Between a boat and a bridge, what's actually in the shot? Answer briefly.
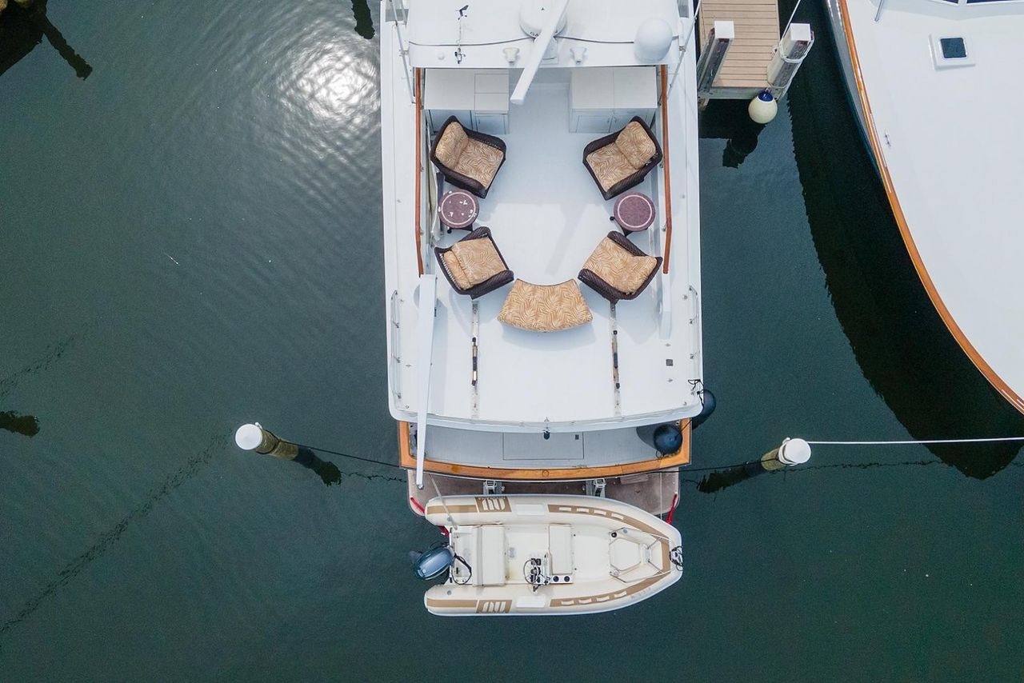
boat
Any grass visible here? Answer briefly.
No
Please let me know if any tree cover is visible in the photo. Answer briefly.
No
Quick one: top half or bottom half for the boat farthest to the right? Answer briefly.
top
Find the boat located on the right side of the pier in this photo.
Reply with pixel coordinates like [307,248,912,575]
[809,0,1024,416]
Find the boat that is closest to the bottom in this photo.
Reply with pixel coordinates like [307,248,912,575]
[406,493,684,617]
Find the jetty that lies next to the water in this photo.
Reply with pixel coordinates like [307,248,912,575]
[695,0,779,120]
